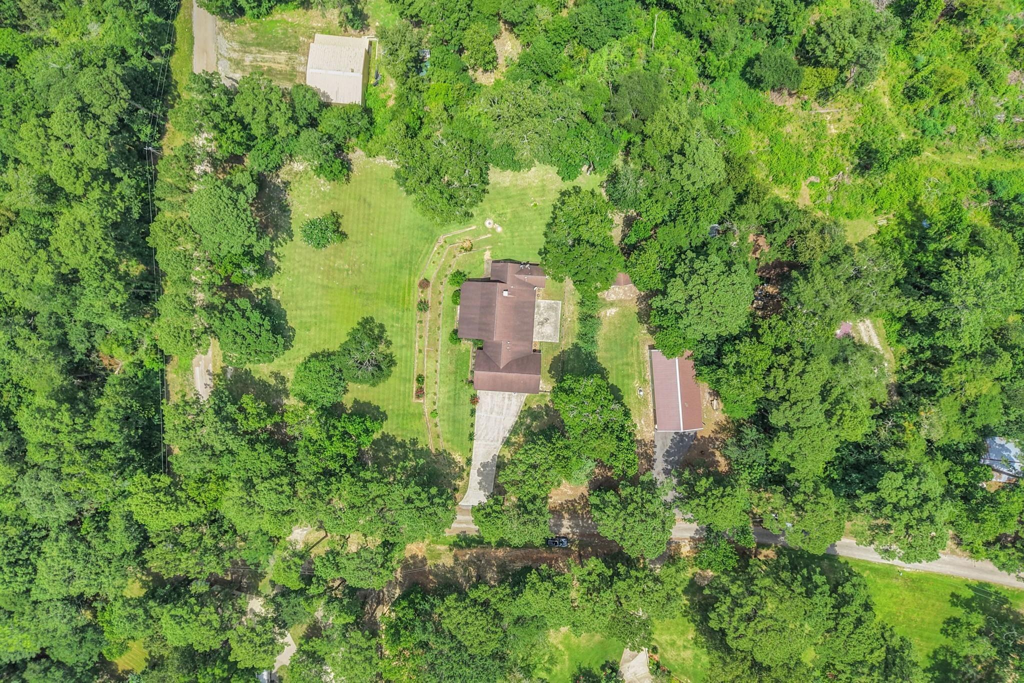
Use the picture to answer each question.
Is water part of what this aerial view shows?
No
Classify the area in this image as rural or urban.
rural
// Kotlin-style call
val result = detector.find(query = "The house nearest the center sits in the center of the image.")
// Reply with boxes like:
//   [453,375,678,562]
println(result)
[457,263,546,393]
